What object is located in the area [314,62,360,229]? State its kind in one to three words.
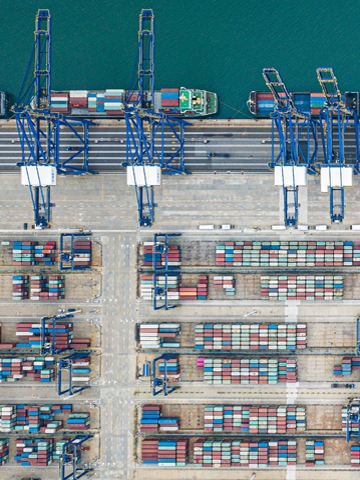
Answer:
container crane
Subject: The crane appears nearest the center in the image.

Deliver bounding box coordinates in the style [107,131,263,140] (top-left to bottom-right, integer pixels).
[153,235,182,270]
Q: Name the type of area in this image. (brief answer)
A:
port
